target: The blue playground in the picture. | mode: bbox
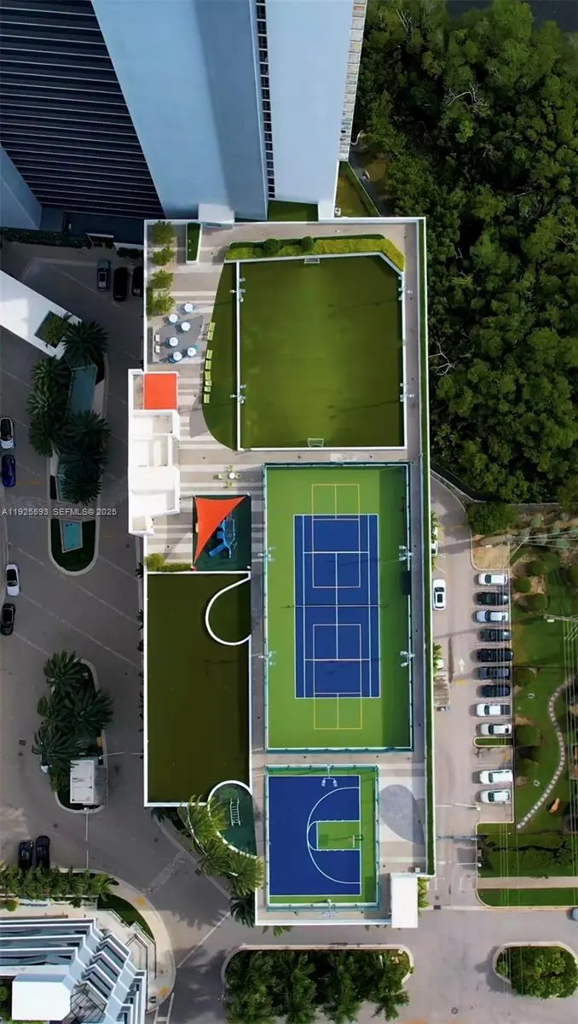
[208,513,237,557]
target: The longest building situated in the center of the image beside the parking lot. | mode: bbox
[142,216,437,929]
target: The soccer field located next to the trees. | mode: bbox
[237,252,406,451]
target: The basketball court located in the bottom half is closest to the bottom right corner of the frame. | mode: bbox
[268,768,376,903]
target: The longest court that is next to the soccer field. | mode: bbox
[267,466,411,747]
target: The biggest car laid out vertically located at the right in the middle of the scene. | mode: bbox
[432,578,447,611]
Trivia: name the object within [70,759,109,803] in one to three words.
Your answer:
building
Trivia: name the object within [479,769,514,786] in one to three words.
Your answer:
car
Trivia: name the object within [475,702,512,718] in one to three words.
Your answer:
vehicle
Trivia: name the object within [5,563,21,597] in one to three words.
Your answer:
car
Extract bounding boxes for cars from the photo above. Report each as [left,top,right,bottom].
[0,417,15,450]
[34,835,51,870]
[432,578,447,611]
[478,647,512,663]
[0,603,15,636]
[5,563,21,597]
[476,571,509,587]
[479,683,512,699]
[112,268,128,301]
[478,722,512,738]
[478,665,510,681]
[479,769,514,786]
[479,788,513,805]
[476,591,510,606]
[479,627,512,643]
[0,454,16,487]
[18,838,34,873]
[131,266,142,298]
[96,259,112,292]
[476,608,509,624]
